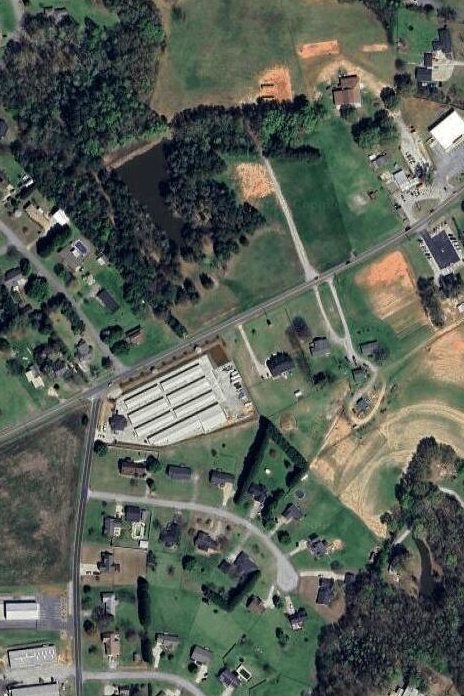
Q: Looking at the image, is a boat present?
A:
No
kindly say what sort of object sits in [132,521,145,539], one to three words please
swimming pool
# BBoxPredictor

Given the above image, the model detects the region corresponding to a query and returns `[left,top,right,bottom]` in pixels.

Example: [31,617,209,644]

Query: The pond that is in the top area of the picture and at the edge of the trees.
[118,145,187,249]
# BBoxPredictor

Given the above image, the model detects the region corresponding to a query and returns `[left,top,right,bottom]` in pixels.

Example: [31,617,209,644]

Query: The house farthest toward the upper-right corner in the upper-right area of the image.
[433,27,454,53]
